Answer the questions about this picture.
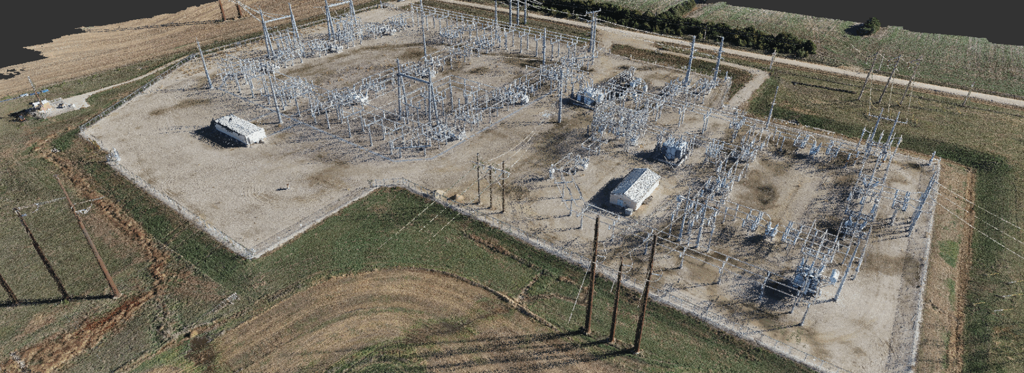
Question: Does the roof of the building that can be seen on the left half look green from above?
No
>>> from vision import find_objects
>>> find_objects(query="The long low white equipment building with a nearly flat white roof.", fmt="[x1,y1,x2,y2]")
[211,116,264,148]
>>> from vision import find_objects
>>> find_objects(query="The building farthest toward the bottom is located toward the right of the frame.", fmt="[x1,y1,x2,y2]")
[609,167,659,211]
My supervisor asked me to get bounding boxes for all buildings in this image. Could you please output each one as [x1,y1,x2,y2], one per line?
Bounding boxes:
[609,167,659,211]
[211,116,264,148]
